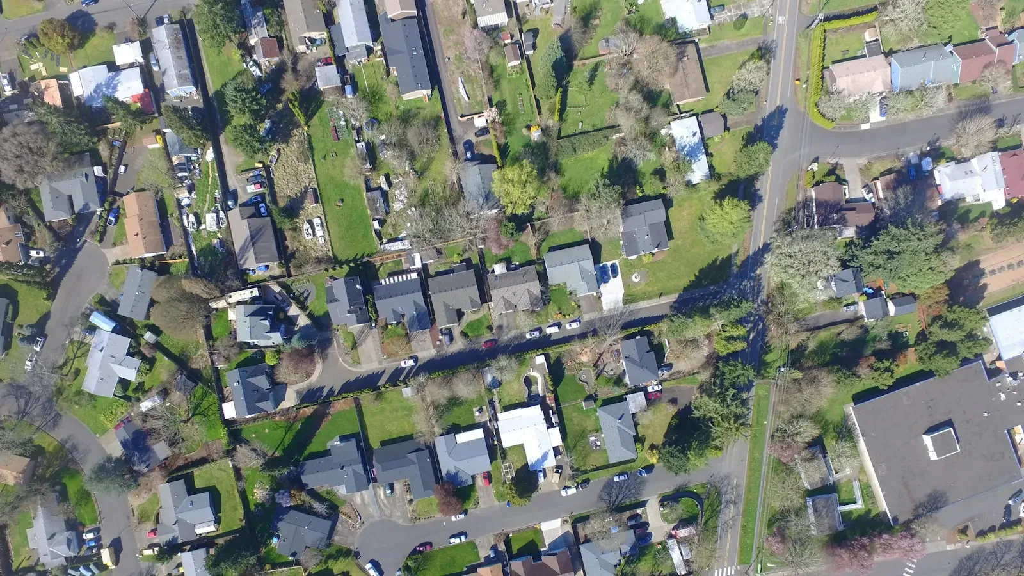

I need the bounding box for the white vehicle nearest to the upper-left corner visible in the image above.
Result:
[1,74,13,93]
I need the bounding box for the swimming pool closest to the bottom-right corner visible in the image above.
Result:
[523,371,542,405]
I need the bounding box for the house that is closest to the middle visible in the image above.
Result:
[487,263,545,315]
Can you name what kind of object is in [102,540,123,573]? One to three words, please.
truck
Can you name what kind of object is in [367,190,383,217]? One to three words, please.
shed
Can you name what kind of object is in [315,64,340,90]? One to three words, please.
building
